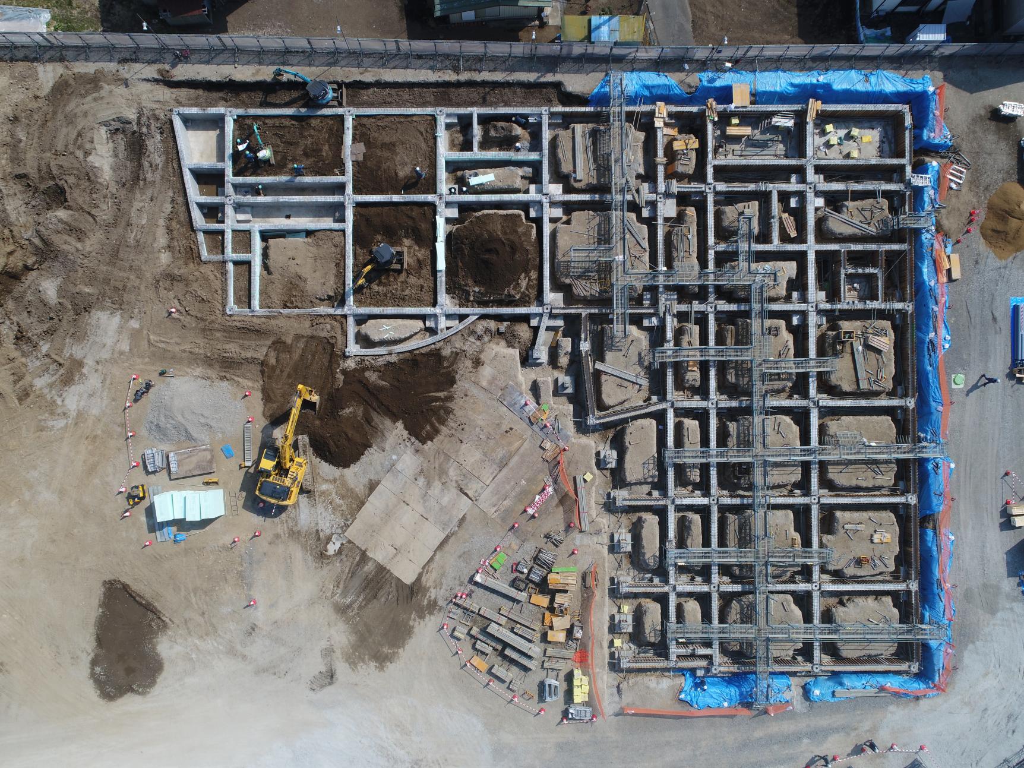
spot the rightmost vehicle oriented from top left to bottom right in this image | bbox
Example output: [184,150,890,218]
[273,61,343,107]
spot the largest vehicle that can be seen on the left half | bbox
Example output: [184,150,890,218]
[250,380,325,507]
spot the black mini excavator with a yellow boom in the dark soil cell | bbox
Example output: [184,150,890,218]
[353,242,412,296]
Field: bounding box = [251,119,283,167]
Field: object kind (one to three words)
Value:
work vehicle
